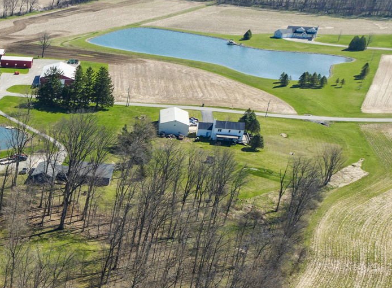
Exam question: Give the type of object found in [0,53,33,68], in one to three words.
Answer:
barn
